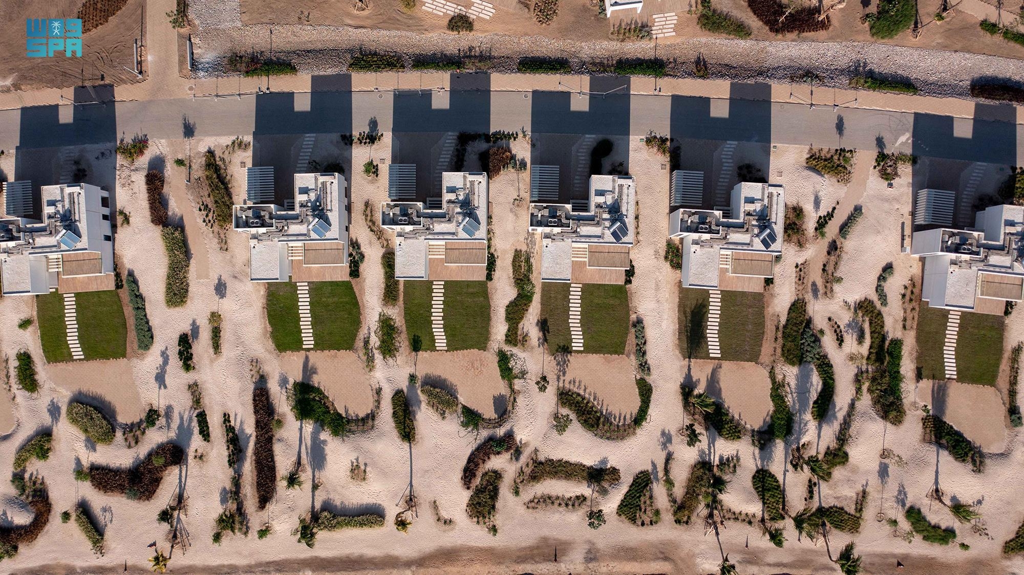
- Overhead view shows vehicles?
No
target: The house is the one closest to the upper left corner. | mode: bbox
[0,183,117,295]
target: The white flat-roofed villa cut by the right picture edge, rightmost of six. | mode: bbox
[912,208,1024,317]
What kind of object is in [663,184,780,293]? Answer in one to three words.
house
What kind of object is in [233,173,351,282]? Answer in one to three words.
house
